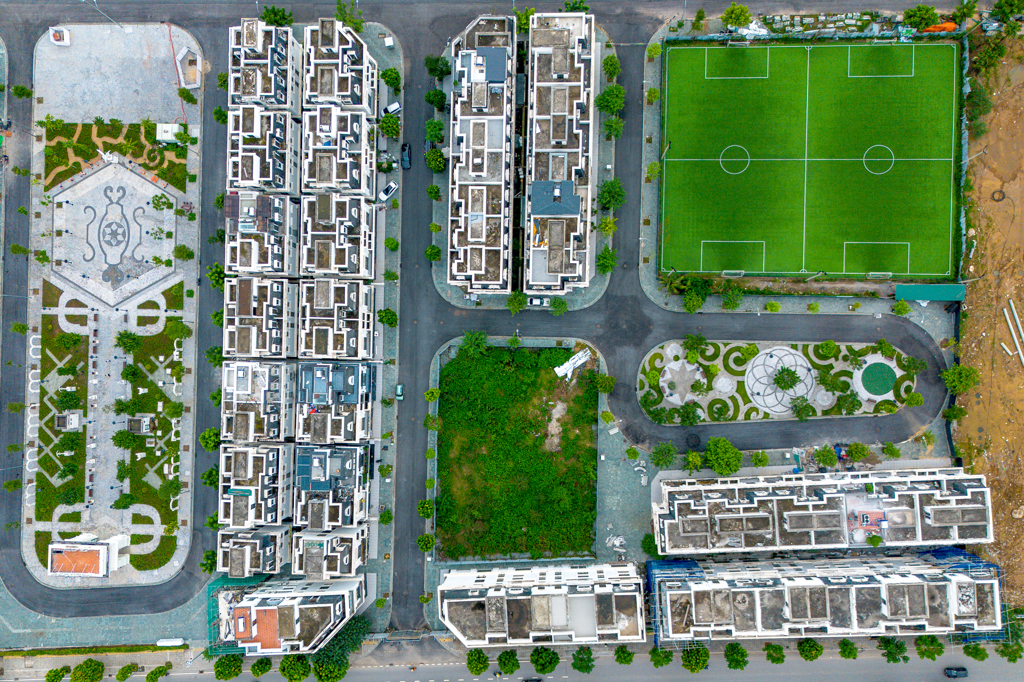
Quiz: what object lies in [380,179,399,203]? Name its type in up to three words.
car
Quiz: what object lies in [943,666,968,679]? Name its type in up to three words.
vehicle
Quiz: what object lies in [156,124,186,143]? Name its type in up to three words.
building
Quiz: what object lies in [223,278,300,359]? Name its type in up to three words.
house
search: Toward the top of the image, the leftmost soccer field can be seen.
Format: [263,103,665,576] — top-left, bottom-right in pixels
[659,37,810,285]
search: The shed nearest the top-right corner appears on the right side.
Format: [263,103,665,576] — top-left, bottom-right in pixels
[889,284,965,301]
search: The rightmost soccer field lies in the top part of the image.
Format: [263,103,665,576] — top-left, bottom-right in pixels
[804,33,958,285]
